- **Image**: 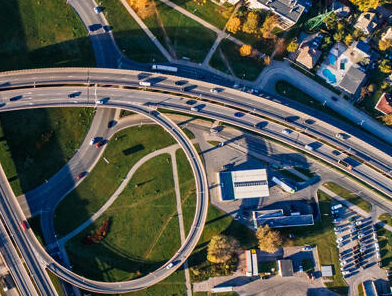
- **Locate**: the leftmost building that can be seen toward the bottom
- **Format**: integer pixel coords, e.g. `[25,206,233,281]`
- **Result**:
[219,169,268,199]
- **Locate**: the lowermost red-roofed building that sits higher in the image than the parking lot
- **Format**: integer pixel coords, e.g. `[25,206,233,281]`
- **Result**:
[371,91,392,117]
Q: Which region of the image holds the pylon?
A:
top right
